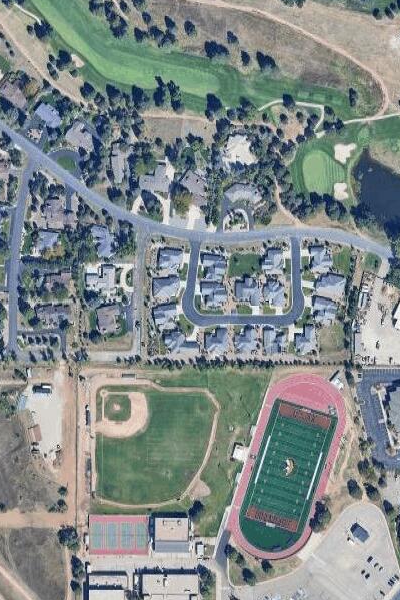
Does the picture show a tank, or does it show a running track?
running track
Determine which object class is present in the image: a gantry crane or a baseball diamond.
baseball diamond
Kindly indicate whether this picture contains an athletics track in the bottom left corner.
No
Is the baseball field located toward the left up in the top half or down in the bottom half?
bottom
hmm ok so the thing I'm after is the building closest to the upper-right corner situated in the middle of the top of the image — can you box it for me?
[222,132,258,164]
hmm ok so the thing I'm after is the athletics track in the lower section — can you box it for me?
[230,373,346,561]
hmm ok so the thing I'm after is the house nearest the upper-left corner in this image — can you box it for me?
[0,80,30,111]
